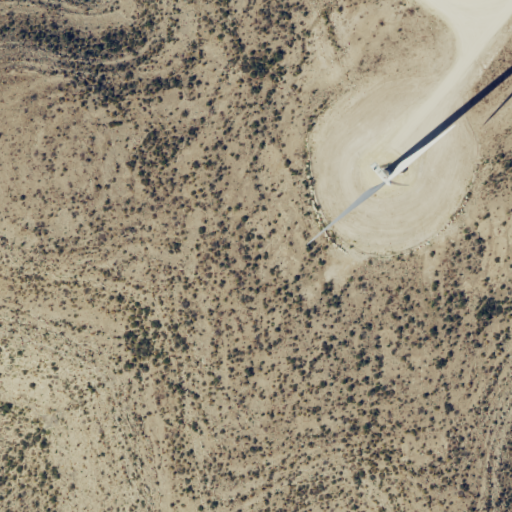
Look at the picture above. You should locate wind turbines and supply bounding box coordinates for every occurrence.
[308,126,456,245]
